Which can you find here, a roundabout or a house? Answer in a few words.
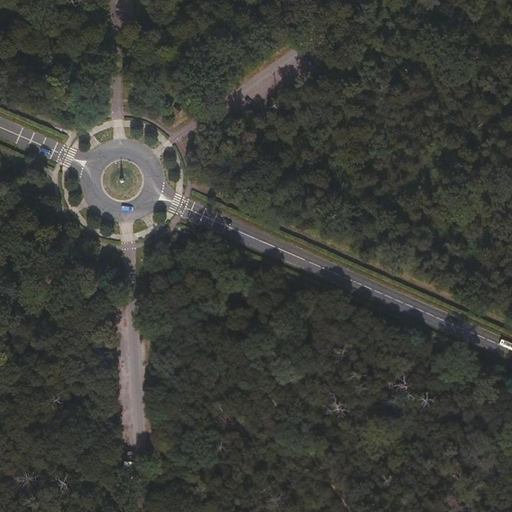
roundabout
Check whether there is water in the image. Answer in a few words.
No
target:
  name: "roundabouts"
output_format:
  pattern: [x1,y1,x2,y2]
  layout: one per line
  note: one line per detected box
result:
[80,139,164,222]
